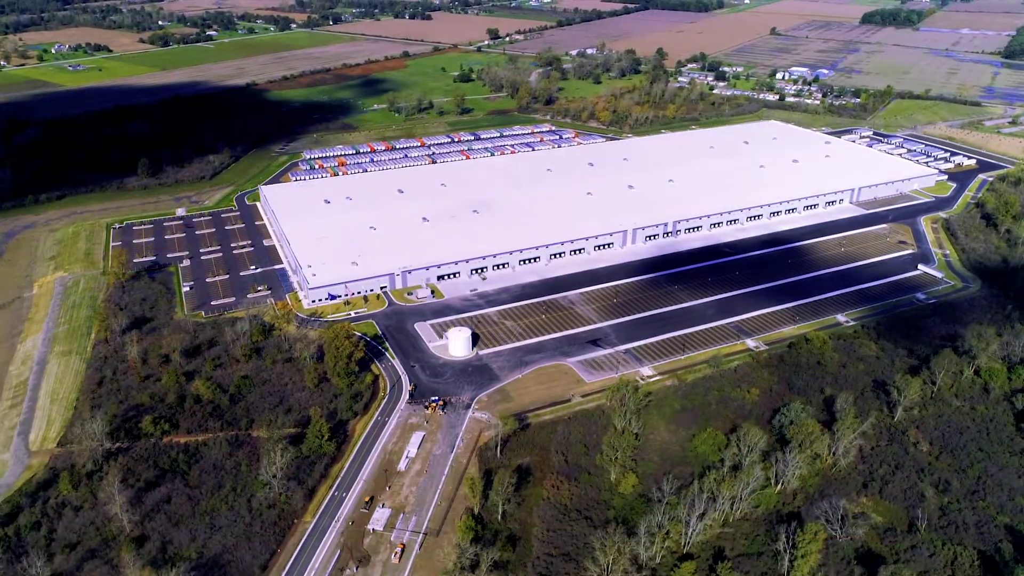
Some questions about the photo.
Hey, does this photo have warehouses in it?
Yes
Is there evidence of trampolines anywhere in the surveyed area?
No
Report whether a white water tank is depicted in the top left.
No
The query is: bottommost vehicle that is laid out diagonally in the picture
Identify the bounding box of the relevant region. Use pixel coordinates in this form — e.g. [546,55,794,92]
[390,541,406,560]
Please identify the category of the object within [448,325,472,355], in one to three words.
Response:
water tank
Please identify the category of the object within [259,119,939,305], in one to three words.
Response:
warehouse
